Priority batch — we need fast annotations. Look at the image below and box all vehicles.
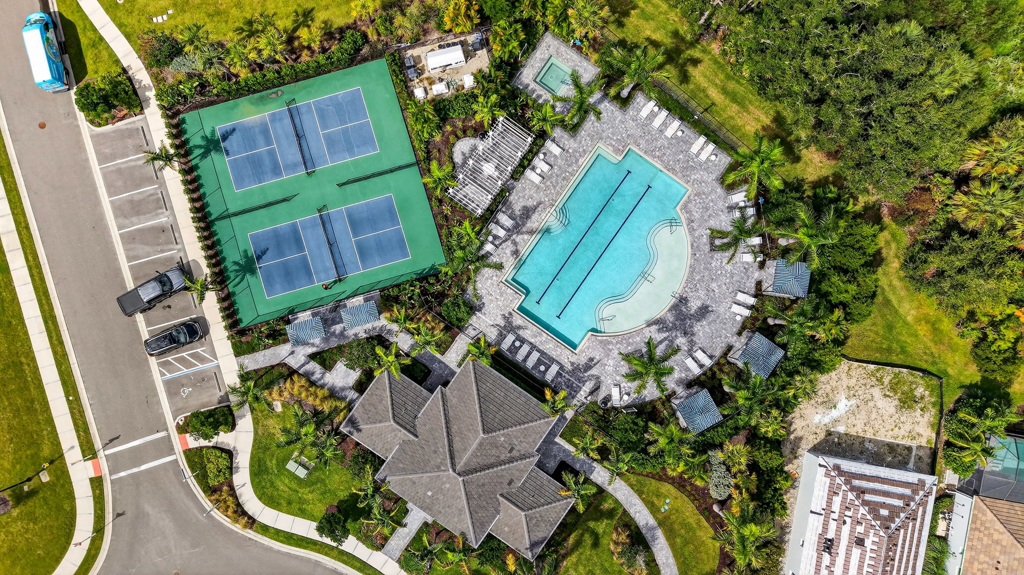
[116,268,188,316]
[24,12,71,93]
[143,322,205,360]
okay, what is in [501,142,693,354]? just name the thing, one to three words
swimming pool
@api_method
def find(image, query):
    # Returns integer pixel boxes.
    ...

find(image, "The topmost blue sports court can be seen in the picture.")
[217,87,379,192]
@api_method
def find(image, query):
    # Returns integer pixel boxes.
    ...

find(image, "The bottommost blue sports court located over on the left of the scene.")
[248,194,411,299]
